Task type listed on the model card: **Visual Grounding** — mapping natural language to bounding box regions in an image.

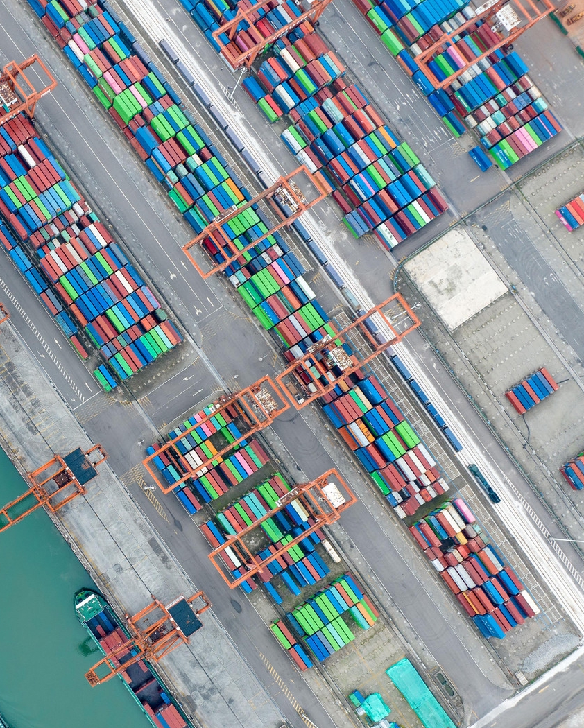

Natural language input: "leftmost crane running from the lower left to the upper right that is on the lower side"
[0,444,107,534]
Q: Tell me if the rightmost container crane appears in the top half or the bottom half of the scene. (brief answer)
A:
top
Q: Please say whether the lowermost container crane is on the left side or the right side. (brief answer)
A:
left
